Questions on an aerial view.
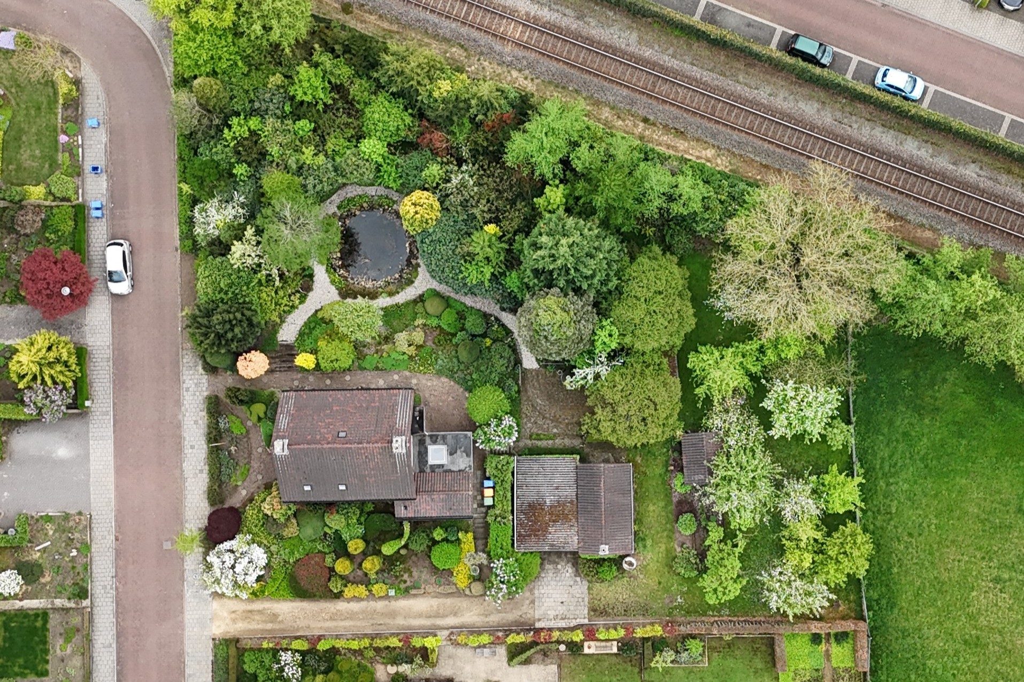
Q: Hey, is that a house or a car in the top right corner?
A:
car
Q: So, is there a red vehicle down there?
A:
No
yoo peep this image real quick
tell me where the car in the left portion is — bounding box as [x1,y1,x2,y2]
[104,240,135,295]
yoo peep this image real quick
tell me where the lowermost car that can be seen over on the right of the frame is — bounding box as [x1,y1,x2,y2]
[870,65,926,103]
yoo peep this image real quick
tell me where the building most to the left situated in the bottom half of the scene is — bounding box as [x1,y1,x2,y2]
[270,387,473,521]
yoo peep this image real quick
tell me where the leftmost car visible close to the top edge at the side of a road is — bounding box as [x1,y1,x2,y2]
[782,31,837,70]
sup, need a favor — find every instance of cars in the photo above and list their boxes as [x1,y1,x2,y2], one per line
[782,31,837,70]
[997,0,1024,17]
[104,240,135,295]
[870,65,926,103]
